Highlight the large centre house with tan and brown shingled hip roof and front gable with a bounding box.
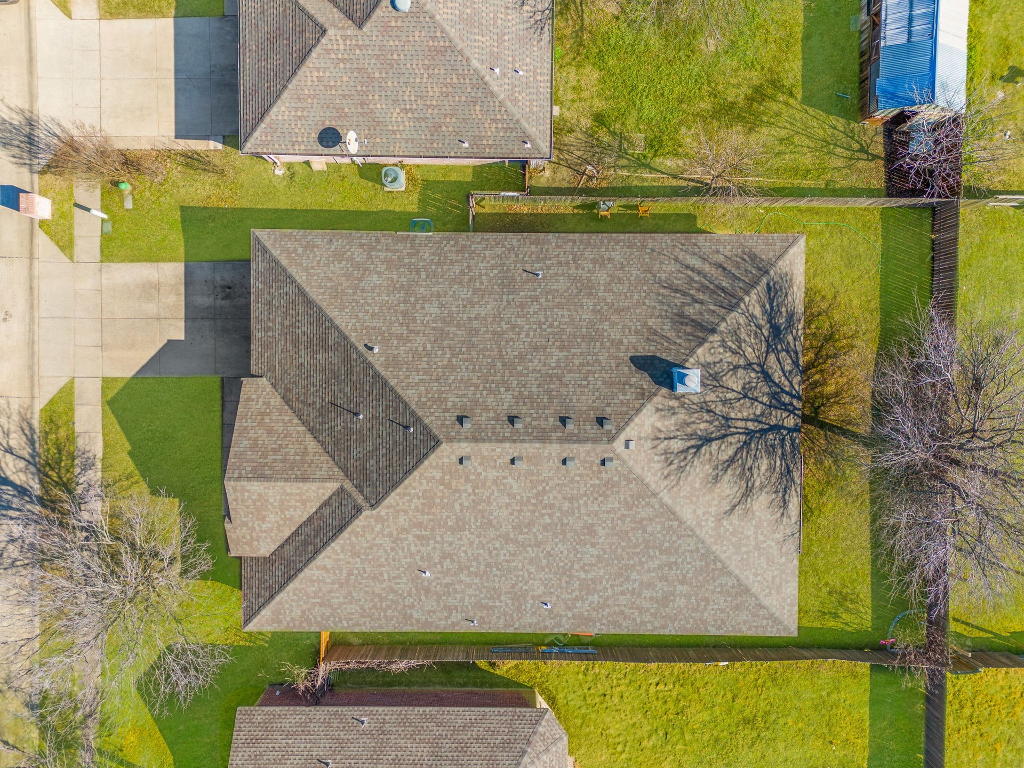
[220,228,806,638]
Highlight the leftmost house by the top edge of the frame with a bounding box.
[234,0,559,169]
